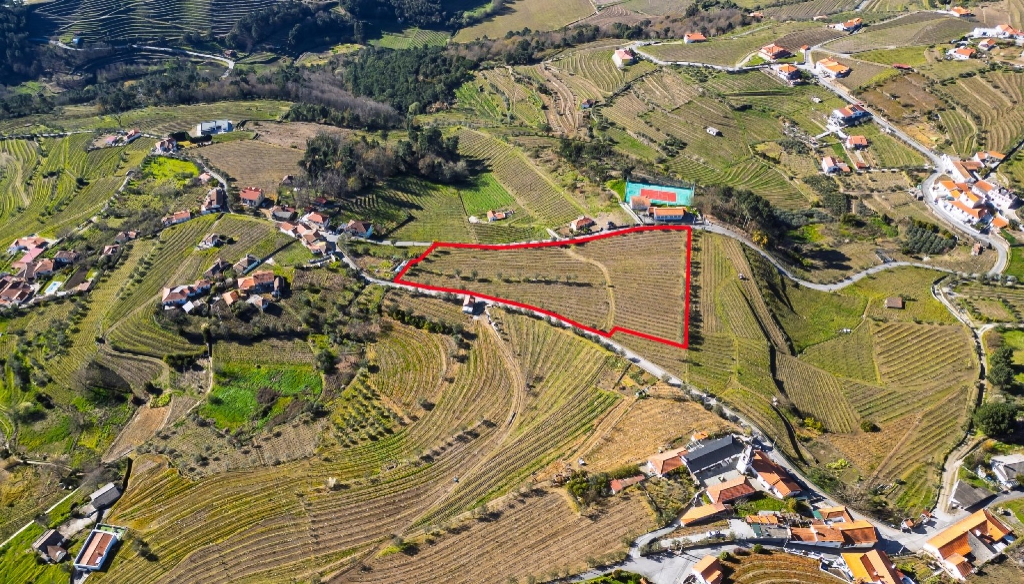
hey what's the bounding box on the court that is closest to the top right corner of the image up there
[626,183,692,205]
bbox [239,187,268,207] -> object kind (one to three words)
house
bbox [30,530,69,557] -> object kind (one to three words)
house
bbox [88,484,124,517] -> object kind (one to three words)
building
